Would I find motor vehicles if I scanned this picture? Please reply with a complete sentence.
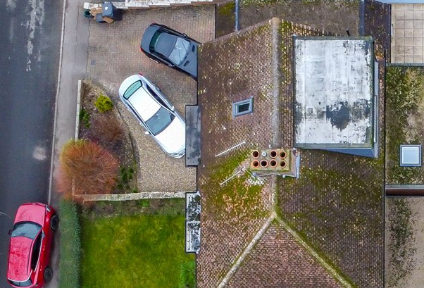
Yes, there's a motor vehicle down there.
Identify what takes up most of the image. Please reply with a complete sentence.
Most of the picture is covered by buildings.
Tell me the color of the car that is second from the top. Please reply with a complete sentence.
From above, the car that is second from the top appears white.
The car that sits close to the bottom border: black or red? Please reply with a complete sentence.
From above, the car that sits close to the bottom border appears red.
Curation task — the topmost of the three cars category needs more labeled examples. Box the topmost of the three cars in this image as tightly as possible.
[133,16,203,76]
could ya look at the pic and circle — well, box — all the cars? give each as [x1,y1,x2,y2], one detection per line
[133,16,203,76]
[4,202,58,288]
[109,66,185,154]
